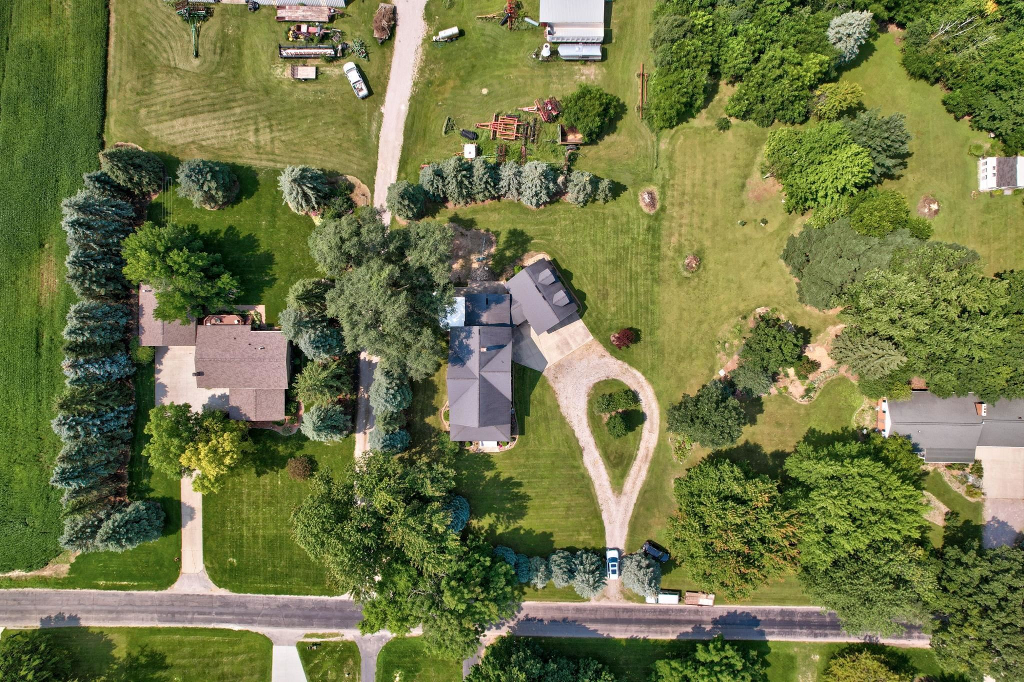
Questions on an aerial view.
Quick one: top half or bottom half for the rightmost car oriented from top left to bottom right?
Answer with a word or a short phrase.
bottom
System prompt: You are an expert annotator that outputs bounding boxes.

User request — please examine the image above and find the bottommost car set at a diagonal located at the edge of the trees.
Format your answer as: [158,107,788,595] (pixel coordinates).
[641,539,670,565]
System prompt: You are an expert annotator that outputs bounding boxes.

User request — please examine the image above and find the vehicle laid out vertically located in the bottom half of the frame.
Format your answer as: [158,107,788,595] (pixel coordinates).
[606,546,621,580]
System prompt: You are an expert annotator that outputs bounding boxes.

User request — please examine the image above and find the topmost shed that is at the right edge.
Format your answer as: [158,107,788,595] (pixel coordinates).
[978,156,1024,196]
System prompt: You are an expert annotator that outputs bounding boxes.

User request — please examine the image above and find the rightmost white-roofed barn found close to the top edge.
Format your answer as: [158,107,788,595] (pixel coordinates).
[540,0,604,33]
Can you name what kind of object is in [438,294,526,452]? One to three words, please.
house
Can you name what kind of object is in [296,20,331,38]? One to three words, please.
work vehicle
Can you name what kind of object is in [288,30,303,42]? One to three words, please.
vehicle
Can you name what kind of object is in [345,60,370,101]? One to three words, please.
truck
